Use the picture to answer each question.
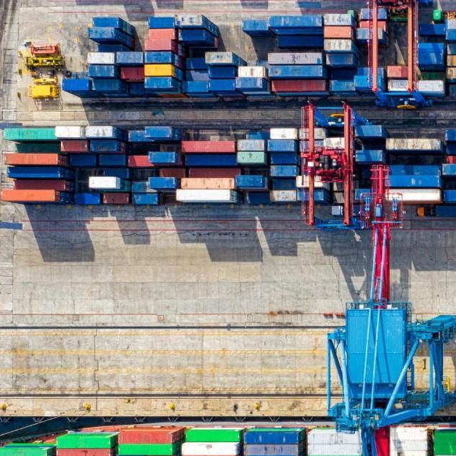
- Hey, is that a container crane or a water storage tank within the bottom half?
container crane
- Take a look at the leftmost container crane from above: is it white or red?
red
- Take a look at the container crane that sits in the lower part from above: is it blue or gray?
blue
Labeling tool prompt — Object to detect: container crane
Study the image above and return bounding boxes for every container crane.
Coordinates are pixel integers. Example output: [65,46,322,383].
[303,102,374,229]
[366,0,433,112]
[322,164,456,456]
